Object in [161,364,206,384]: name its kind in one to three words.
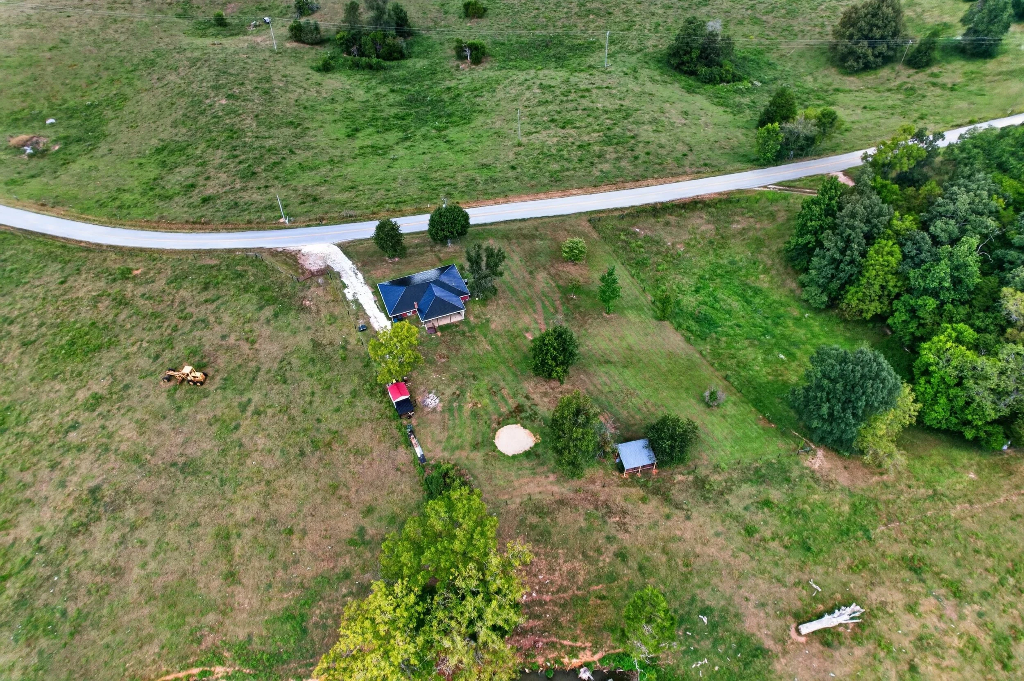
work vehicle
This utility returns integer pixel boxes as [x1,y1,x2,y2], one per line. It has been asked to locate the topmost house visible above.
[375,265,474,338]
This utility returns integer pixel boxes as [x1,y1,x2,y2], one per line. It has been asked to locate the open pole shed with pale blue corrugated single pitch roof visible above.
[615,439,656,477]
